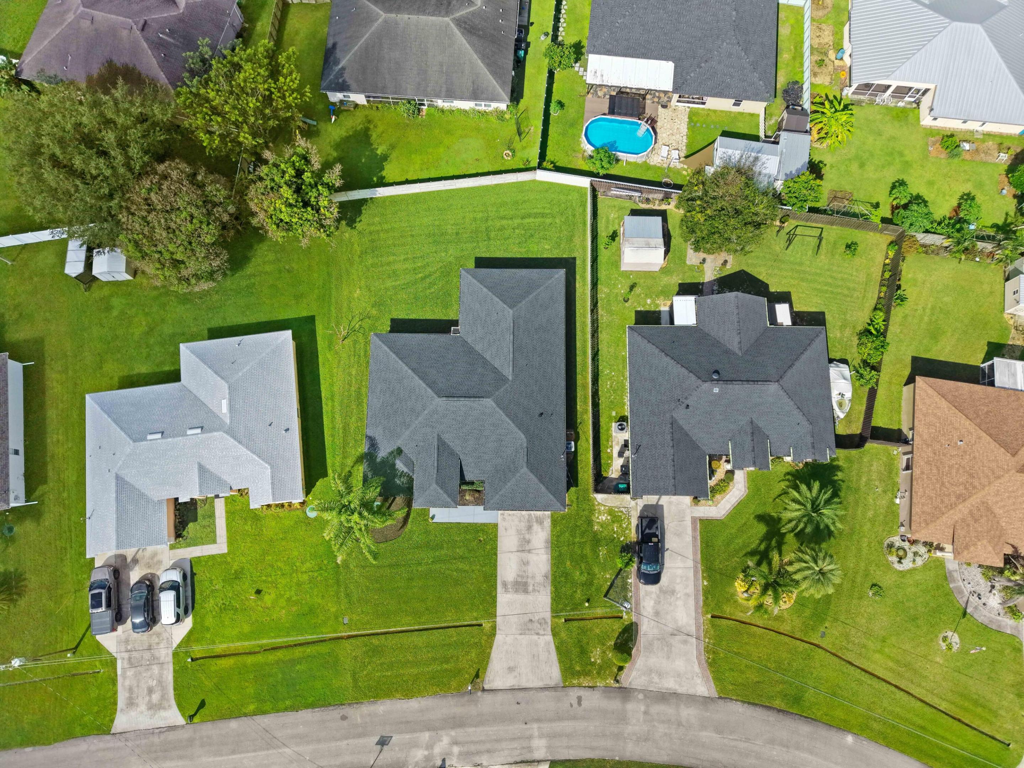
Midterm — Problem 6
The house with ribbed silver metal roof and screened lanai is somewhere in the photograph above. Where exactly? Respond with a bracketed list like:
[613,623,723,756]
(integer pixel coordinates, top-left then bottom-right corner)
[845,0,1024,139]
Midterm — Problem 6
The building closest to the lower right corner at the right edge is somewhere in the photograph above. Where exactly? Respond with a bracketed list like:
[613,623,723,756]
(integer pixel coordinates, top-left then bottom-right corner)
[900,357,1024,568]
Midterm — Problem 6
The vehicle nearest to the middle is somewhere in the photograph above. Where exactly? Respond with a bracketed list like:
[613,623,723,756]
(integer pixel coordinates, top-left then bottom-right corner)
[635,516,664,584]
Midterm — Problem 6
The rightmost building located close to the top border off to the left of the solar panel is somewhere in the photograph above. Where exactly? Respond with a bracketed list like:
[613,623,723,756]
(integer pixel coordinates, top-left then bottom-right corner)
[319,0,518,111]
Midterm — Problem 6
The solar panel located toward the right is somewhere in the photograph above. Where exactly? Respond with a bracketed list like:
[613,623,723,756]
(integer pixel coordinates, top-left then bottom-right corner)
[608,96,640,118]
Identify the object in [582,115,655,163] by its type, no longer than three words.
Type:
swimming pool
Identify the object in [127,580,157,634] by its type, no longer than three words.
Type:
car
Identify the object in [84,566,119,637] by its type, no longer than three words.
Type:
truck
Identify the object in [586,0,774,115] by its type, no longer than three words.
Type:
house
